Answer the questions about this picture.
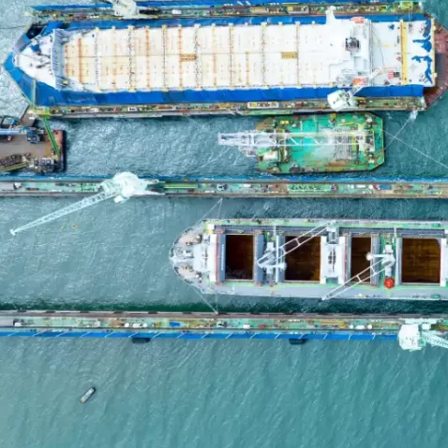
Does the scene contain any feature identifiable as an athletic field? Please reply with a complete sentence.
No, I can't see a single athletic field in this photo.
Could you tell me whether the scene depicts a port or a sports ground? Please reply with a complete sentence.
The picture captures a port.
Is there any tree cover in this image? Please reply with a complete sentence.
No, tree cover can't be seen anywhere here.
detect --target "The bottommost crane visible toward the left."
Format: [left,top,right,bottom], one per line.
[8,169,180,237]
